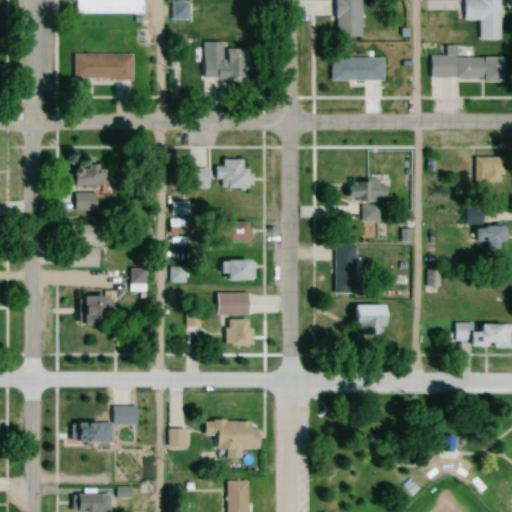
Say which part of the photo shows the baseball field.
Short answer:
bottom right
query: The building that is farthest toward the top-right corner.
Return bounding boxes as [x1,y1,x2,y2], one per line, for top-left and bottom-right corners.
[466,0,503,40]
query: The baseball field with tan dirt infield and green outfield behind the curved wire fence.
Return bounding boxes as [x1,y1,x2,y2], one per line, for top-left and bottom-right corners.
[404,477,491,512]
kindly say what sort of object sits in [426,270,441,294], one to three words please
shed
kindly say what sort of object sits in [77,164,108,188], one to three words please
house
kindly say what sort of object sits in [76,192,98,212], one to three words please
building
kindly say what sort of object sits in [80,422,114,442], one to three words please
house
